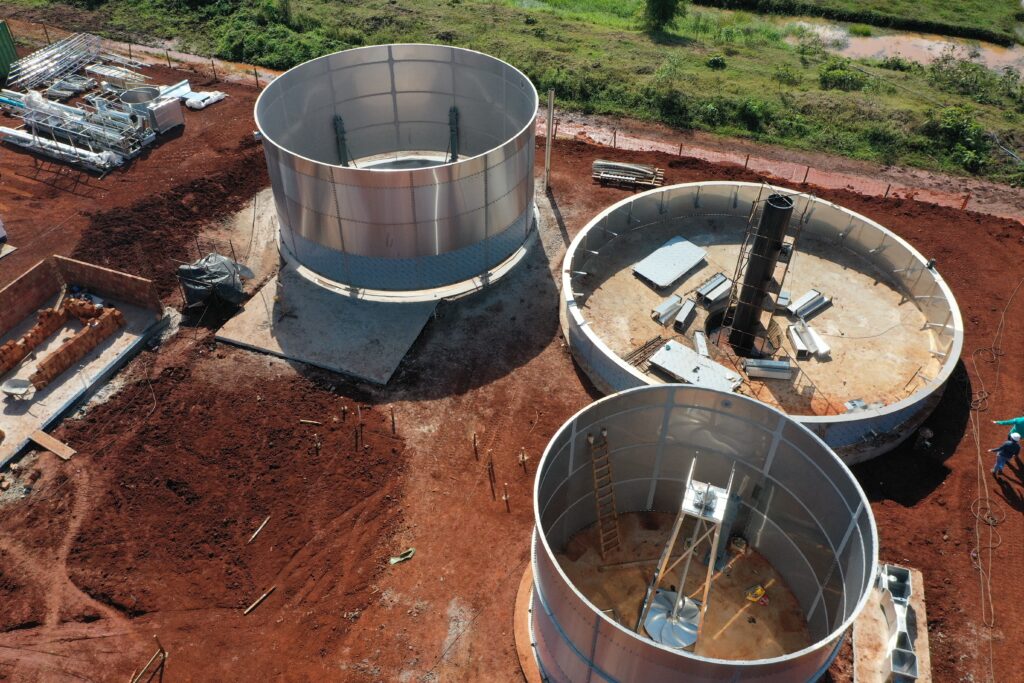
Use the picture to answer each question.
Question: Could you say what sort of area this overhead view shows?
industrial area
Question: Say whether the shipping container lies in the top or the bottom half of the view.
top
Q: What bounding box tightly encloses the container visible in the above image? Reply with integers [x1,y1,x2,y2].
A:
[0,19,25,77]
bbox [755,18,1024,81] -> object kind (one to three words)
pond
